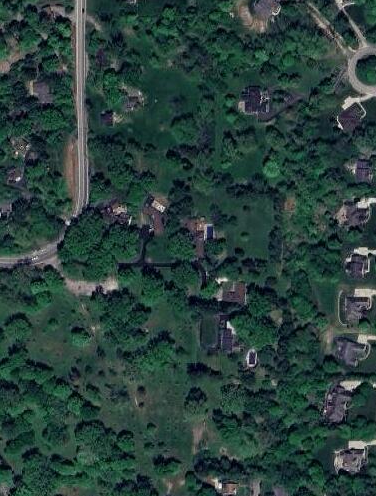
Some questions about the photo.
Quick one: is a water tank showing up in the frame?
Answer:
No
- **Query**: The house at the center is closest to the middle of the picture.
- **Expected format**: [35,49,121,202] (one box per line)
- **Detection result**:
[185,220,205,256]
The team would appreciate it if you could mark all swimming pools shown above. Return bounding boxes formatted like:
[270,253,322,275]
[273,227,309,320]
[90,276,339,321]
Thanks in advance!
[247,350,256,366]
[205,225,214,239]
